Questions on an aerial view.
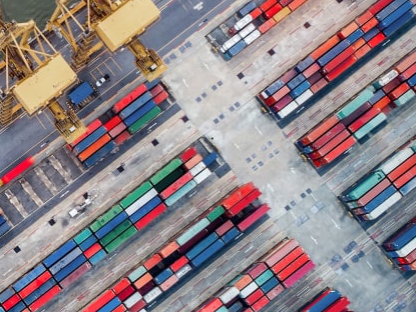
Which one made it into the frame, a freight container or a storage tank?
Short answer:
freight container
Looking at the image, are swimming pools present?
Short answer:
No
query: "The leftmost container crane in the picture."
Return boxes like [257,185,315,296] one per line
[0,0,91,145]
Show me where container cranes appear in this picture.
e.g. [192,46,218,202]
[0,0,91,145]
[46,0,172,84]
